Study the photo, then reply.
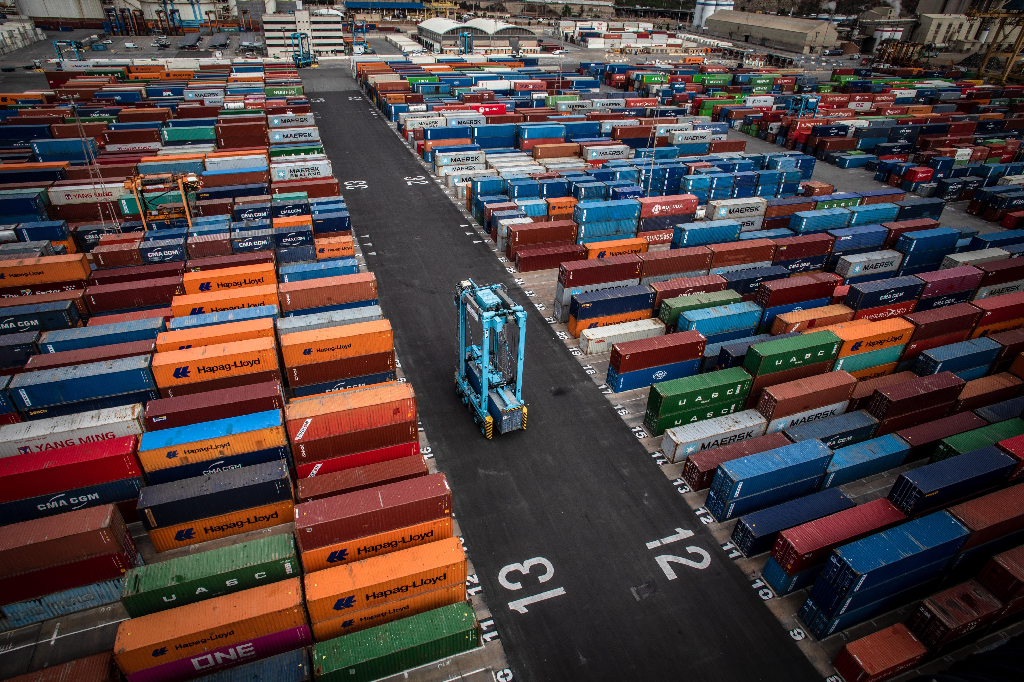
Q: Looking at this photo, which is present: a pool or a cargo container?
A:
cargo container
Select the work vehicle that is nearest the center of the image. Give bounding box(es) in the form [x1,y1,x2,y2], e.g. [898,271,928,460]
[452,274,532,439]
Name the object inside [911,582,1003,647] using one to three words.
shipping container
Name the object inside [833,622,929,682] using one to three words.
shipping container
